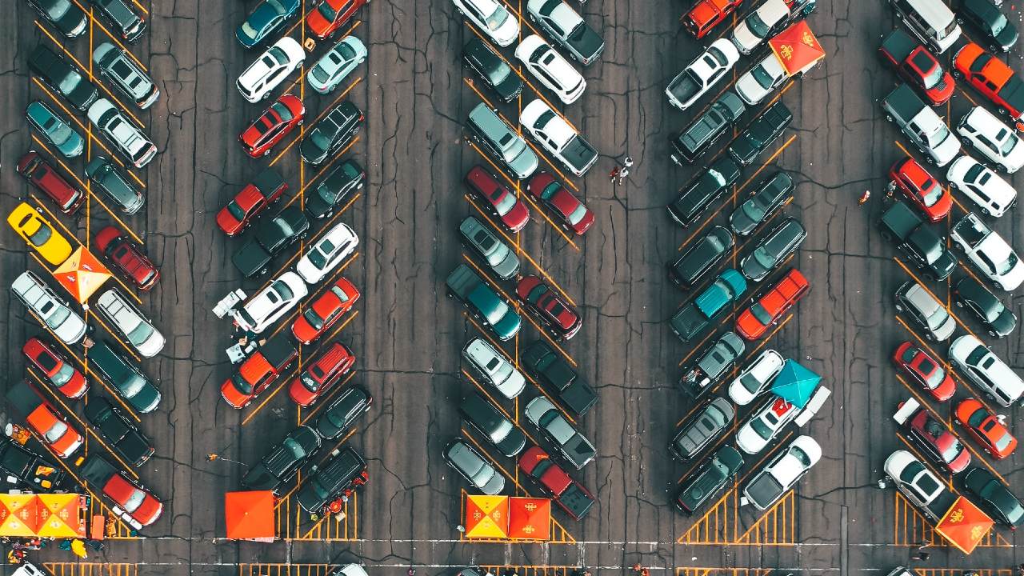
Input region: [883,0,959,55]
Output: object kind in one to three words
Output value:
van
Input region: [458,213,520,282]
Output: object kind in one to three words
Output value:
car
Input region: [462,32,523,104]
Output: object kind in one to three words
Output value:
car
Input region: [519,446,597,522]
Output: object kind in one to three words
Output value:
truck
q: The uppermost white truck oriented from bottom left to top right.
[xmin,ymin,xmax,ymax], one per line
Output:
[730,0,805,59]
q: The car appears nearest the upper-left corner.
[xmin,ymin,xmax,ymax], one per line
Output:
[30,0,89,40]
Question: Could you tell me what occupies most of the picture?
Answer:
paved ground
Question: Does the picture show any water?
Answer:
No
